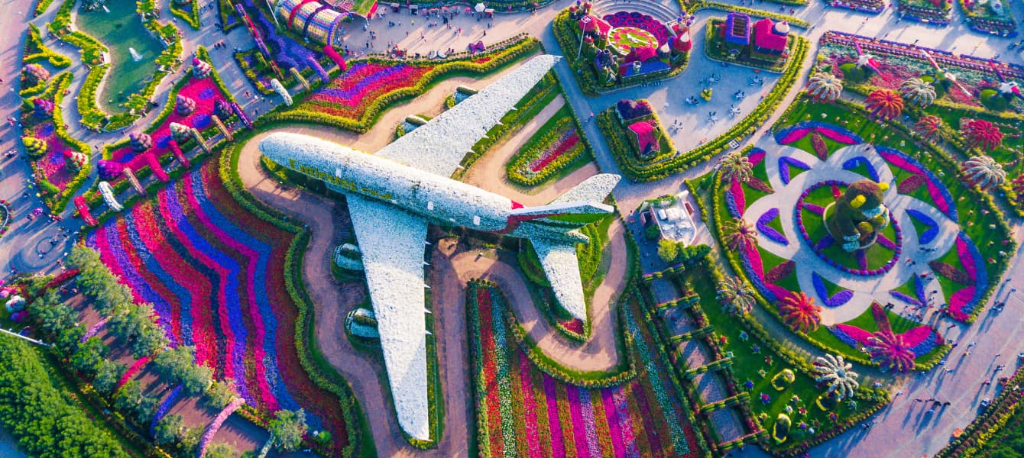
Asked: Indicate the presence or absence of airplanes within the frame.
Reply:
Yes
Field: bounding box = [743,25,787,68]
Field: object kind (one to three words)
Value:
house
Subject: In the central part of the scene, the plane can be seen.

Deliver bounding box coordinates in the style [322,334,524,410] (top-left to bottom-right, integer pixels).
[259,48,630,436]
